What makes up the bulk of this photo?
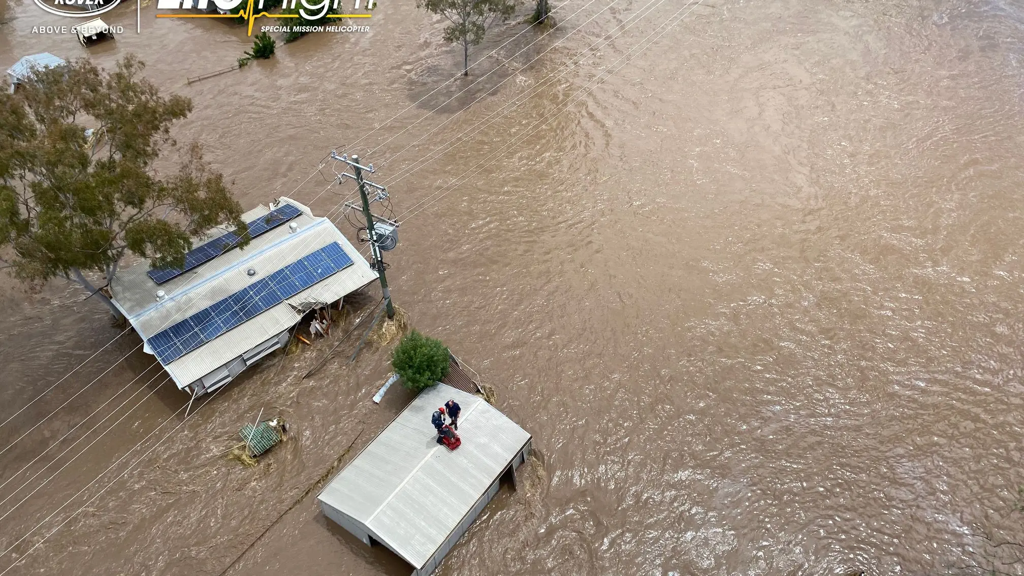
water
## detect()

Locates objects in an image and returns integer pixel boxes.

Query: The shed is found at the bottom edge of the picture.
[316,379,534,576]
